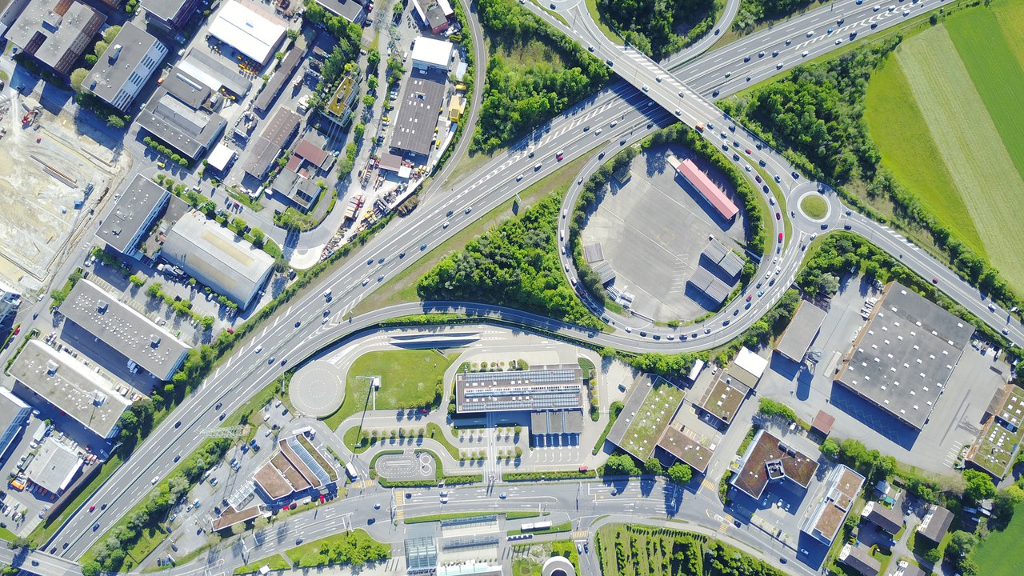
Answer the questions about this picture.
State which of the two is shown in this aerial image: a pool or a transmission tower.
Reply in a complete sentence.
Visible in the photo is a transmission tower.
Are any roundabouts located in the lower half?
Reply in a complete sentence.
No, the scene shows no roundabout in the lower half.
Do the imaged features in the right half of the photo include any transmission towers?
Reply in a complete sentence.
No, I can find no transmission tower in the right half of the photo.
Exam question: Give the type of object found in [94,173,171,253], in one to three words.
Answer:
building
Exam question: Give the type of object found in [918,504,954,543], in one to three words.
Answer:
house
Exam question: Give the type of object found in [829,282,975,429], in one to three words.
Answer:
building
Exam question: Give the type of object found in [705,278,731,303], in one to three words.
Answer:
shed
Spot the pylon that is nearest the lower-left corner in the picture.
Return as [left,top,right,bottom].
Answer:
[212,421,255,453]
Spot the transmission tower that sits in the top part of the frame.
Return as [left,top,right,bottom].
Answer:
[375,35,410,56]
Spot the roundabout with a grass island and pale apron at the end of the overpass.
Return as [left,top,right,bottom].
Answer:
[787,179,841,234]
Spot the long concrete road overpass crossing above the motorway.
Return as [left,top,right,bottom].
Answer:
[524,0,802,198]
